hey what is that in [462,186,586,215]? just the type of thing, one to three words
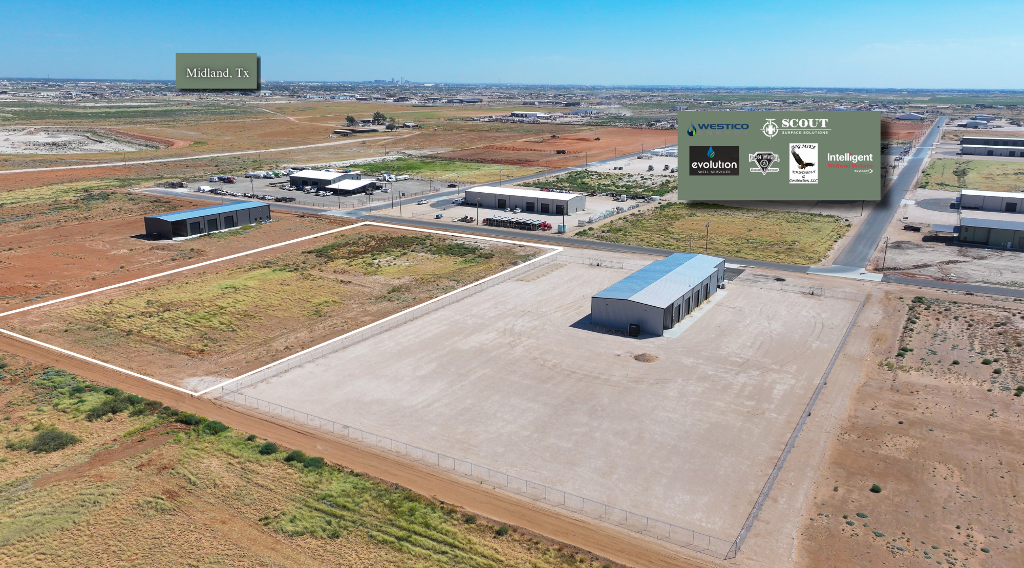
building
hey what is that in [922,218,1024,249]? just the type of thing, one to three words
building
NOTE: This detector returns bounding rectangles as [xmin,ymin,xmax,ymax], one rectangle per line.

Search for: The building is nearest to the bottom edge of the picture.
[590,253,727,336]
